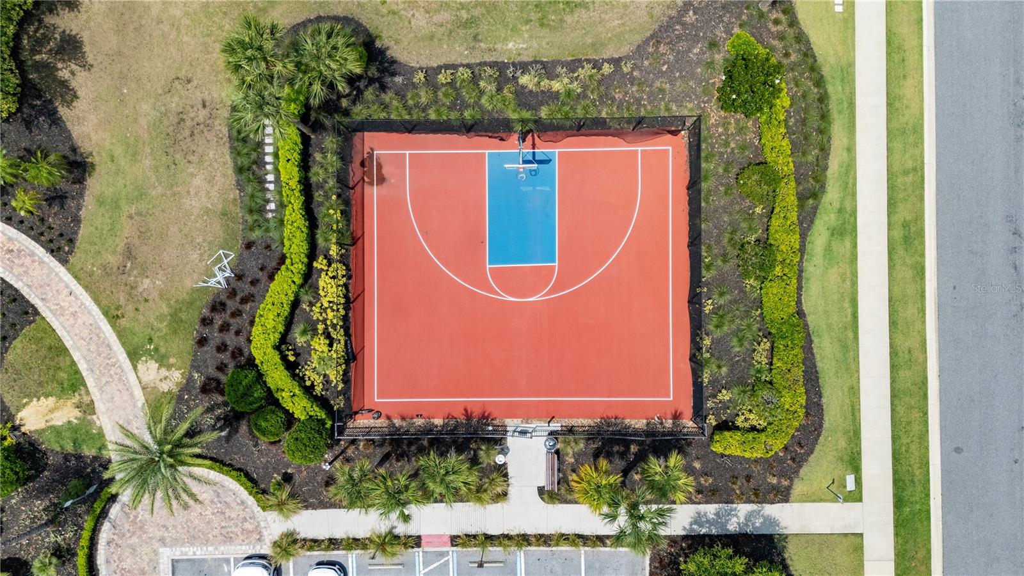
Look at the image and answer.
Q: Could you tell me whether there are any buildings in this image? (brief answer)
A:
No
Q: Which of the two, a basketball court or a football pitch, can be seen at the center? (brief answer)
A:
basketball court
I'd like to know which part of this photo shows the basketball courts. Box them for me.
[351,129,694,421]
